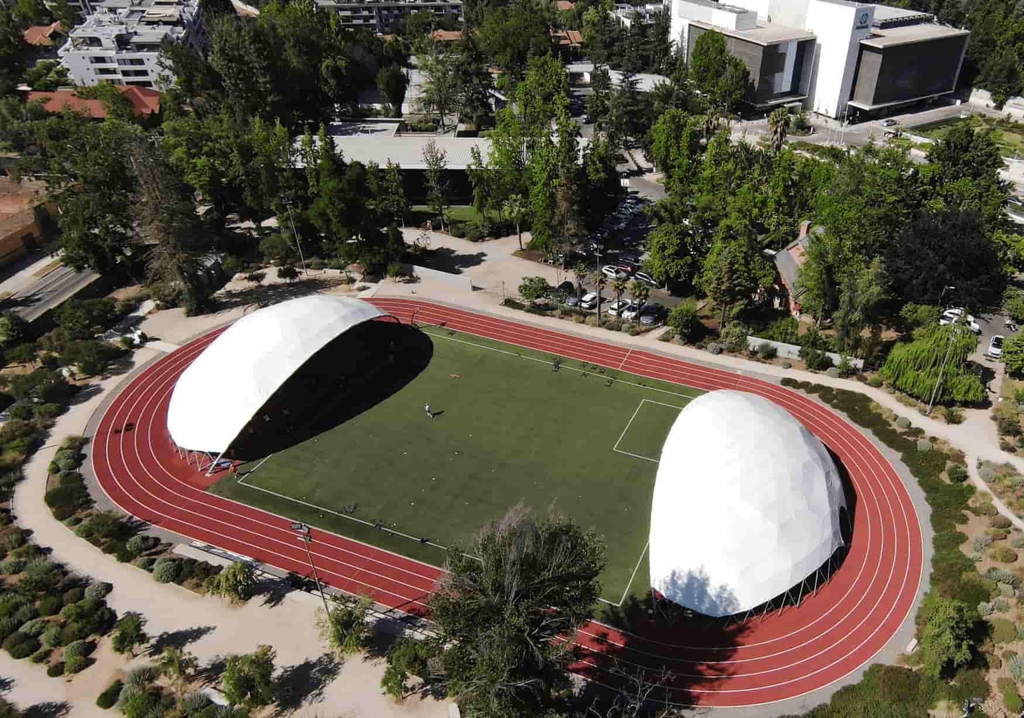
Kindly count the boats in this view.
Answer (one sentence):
No boats are visible.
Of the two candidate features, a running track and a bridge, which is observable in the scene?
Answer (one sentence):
It is a running track that can be seen here.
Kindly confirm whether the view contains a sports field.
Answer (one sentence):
Yes, there is a sports field in the image.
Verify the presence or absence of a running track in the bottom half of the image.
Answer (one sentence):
Yes, a running track shows up in the bottom half of the image.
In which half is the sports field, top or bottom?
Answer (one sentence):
Seen from above, the sports field lies in the bottom half of the view.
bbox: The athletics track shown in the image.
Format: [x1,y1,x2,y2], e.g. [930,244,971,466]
[91,297,919,706]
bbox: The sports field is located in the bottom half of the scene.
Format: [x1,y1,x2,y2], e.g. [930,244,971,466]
[239,331,688,606]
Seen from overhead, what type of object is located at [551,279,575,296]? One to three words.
car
